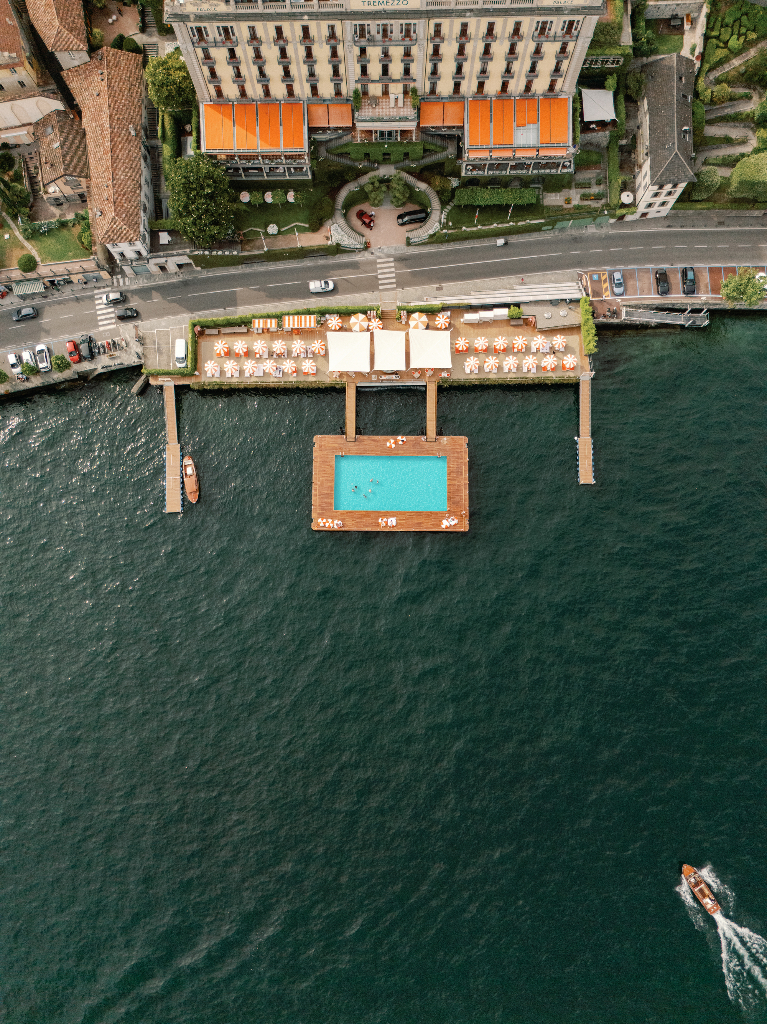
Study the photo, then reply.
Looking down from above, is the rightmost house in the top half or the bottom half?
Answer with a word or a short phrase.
top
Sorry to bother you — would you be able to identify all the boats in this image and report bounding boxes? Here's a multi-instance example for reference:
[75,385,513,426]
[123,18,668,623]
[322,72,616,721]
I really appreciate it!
[681,862,725,920]
[183,457,197,502]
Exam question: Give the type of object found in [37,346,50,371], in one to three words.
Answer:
vehicle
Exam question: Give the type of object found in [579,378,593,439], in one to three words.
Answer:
pier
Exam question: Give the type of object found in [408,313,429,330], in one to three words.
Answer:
umbrella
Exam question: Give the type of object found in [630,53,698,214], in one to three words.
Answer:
house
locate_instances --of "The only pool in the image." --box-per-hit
[312,426,469,532]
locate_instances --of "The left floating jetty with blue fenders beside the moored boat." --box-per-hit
[161,444,184,513]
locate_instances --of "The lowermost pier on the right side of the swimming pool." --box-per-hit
[575,436,597,486]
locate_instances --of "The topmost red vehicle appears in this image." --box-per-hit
[357,211,374,228]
